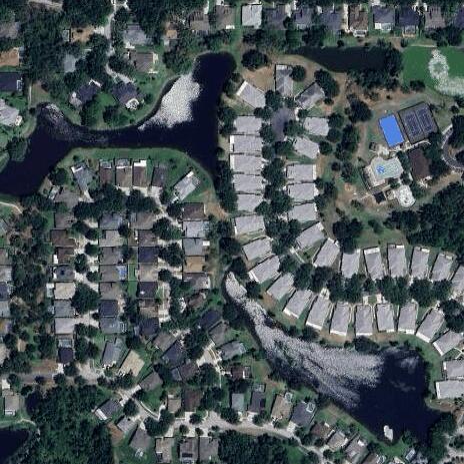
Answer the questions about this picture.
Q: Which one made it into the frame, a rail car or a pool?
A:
pool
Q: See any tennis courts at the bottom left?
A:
No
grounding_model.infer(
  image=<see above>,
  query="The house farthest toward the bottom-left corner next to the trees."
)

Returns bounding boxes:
[2,392,20,414]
